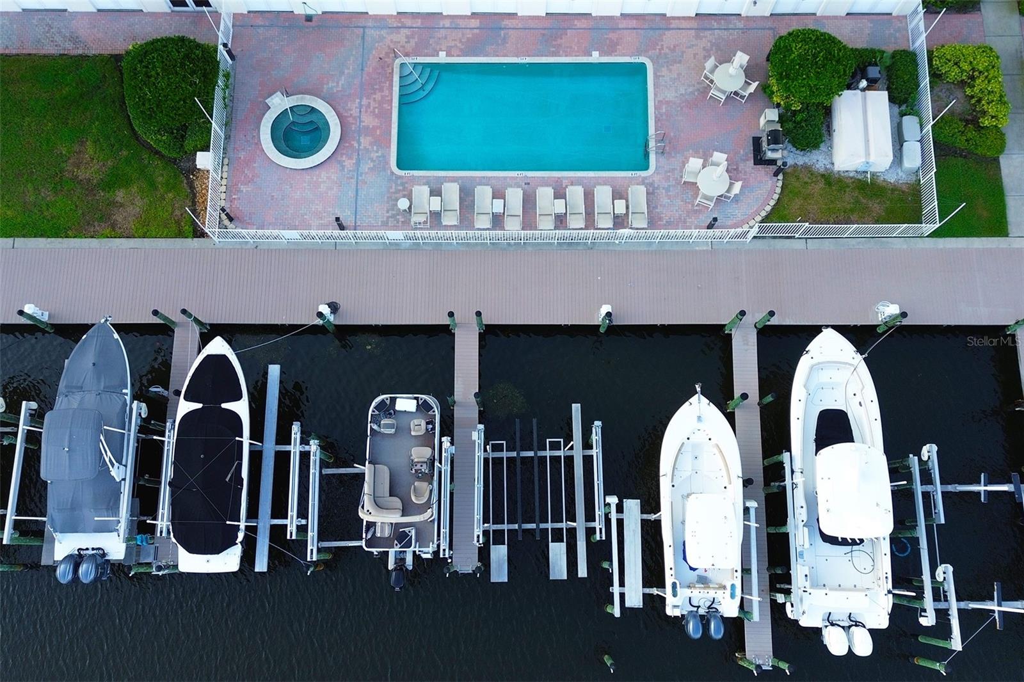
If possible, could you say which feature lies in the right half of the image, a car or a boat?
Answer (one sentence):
What appears in the right half of the image is a boat.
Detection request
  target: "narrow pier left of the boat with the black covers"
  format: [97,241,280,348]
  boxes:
[154,325,201,565]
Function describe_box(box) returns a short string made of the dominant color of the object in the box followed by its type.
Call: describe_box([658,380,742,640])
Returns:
white boat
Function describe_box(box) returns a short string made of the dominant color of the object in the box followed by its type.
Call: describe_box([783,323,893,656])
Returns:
white boat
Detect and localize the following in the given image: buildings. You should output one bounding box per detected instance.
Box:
[831,88,897,170]
[0,0,918,15]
